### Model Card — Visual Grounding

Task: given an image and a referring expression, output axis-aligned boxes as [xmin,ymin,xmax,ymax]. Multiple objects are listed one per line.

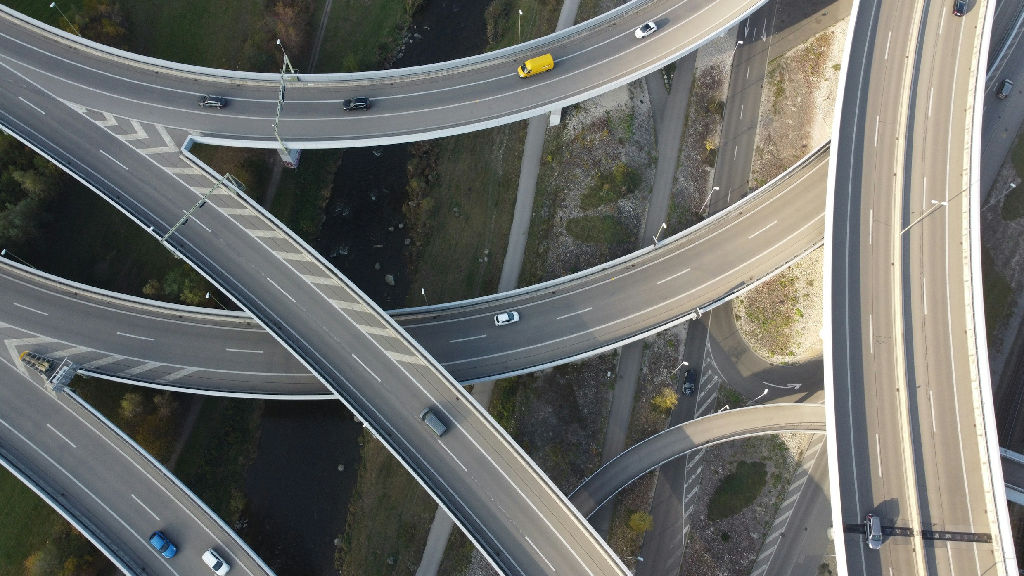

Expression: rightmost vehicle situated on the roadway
[996,81,1013,99]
